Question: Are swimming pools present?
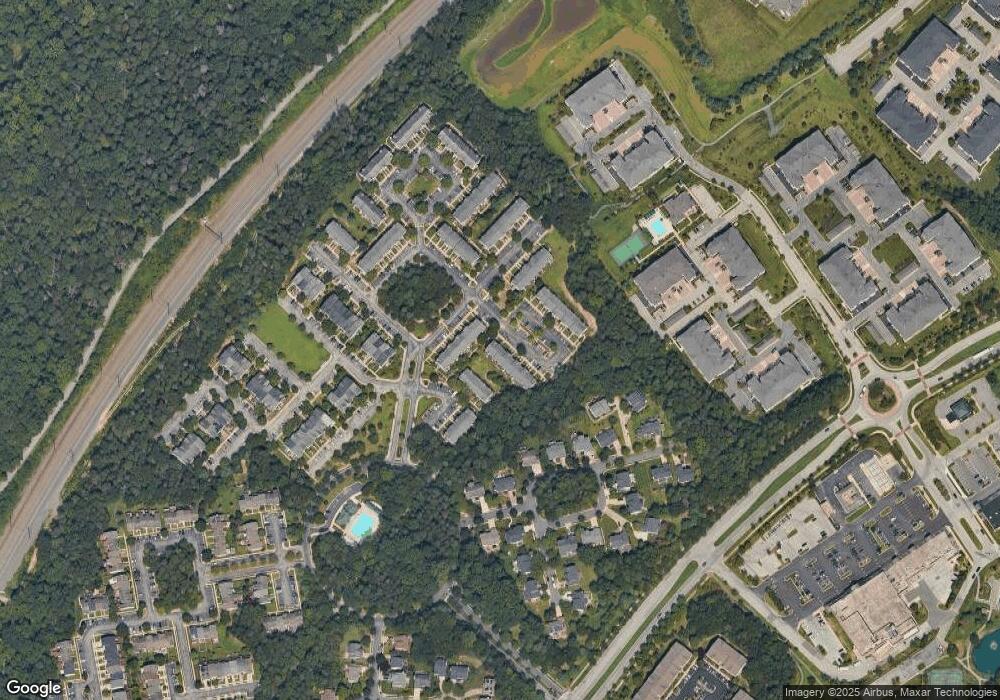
Yes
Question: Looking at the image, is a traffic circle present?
Yes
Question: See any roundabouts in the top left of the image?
No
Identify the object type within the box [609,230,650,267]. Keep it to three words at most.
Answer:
tennis court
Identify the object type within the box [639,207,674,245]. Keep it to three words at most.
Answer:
swimming pool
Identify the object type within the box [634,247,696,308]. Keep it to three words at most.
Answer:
building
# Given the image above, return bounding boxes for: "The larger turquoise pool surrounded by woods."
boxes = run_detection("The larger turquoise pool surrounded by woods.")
[345,503,381,545]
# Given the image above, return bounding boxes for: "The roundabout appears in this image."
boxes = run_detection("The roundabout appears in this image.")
[839,353,930,439]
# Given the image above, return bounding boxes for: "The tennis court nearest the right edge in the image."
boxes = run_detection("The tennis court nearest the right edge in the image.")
[926,666,966,700]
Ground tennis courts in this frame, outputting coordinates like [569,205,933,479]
[926,666,966,700]
[609,230,650,267]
